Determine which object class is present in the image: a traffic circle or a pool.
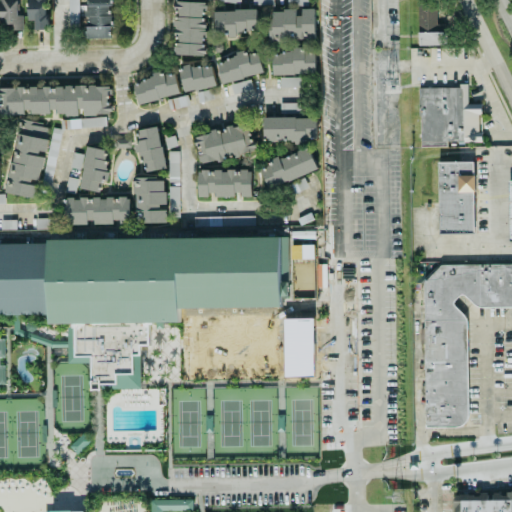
pool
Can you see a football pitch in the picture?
No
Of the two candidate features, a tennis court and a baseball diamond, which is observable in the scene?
tennis court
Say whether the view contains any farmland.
No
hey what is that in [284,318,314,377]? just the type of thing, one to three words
shed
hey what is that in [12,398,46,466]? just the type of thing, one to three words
tennis court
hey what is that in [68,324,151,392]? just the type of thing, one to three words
building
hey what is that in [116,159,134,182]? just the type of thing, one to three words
swimming pool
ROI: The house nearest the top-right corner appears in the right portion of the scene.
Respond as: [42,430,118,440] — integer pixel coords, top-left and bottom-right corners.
[419,6,444,46]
